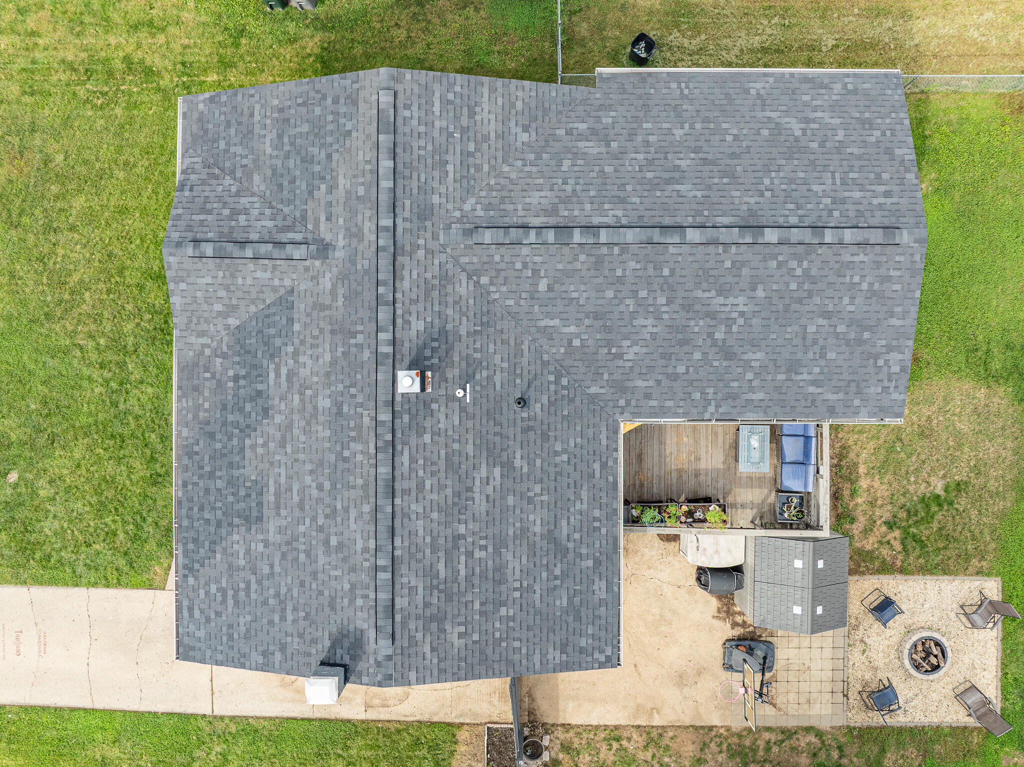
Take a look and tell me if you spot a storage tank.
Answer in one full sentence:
No, the picture doesn't show any storage tank.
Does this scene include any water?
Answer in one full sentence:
No, there's no water in this view.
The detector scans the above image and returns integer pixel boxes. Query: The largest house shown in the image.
[162,67,928,704]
